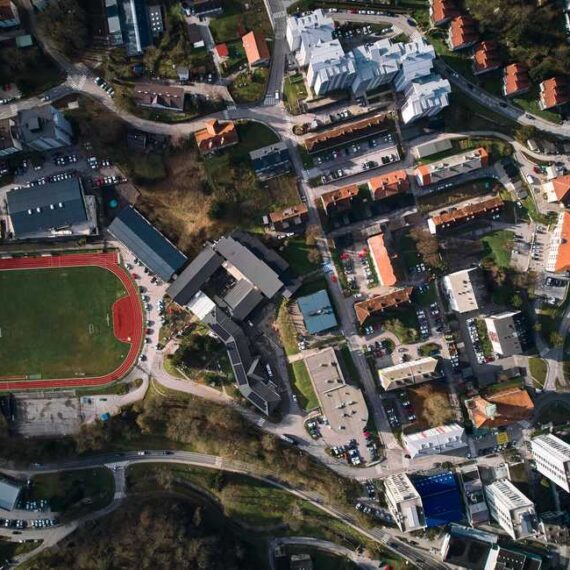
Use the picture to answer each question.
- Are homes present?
Yes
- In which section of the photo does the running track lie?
left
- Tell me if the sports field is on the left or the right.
left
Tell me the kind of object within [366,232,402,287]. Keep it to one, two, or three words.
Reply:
house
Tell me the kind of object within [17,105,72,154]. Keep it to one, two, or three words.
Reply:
house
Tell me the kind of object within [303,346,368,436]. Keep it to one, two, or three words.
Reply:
building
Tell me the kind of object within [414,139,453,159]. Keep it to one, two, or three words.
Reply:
building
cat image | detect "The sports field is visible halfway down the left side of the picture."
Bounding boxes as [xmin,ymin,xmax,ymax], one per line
[0,266,130,384]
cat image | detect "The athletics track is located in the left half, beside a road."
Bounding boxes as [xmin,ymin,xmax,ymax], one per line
[0,253,143,390]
